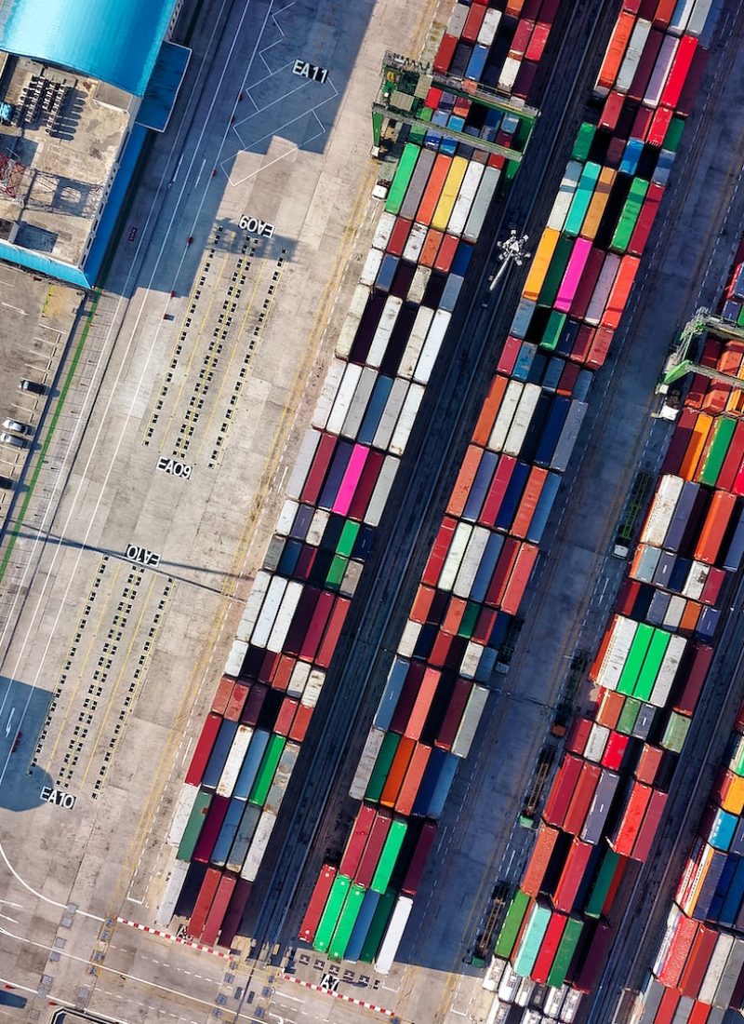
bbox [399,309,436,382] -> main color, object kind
white shipping container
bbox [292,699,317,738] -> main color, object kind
red shipping container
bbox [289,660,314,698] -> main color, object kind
white shipping container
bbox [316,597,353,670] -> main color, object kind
red shipping container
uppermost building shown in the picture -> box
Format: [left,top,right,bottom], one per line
[0,0,193,135]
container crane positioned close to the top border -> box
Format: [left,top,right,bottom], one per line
[369,38,543,194]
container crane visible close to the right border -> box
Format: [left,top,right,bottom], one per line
[660,313,744,390]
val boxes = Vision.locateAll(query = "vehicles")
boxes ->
[3,421,29,438]
[364,119,407,207]
[656,377,683,425]
[547,654,589,741]
[0,476,16,491]
[609,474,651,560]
[515,745,557,832]
[20,381,45,398]
[492,593,533,678]
[468,885,510,973]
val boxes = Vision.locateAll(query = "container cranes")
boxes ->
[369,38,543,194]
[660,313,744,390]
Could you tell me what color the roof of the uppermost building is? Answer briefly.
blue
